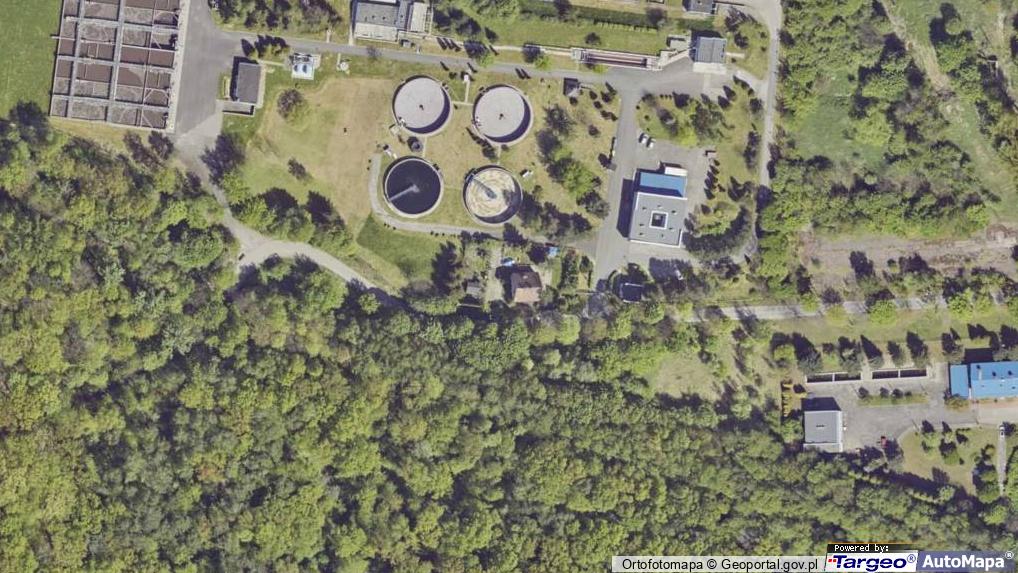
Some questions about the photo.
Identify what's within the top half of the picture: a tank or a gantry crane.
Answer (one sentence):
The feature located within the top half of the picture is a tank.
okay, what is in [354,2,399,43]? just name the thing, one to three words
building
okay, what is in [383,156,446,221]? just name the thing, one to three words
storage tank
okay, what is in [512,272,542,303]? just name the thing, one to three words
house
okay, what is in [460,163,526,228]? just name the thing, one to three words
storage tank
